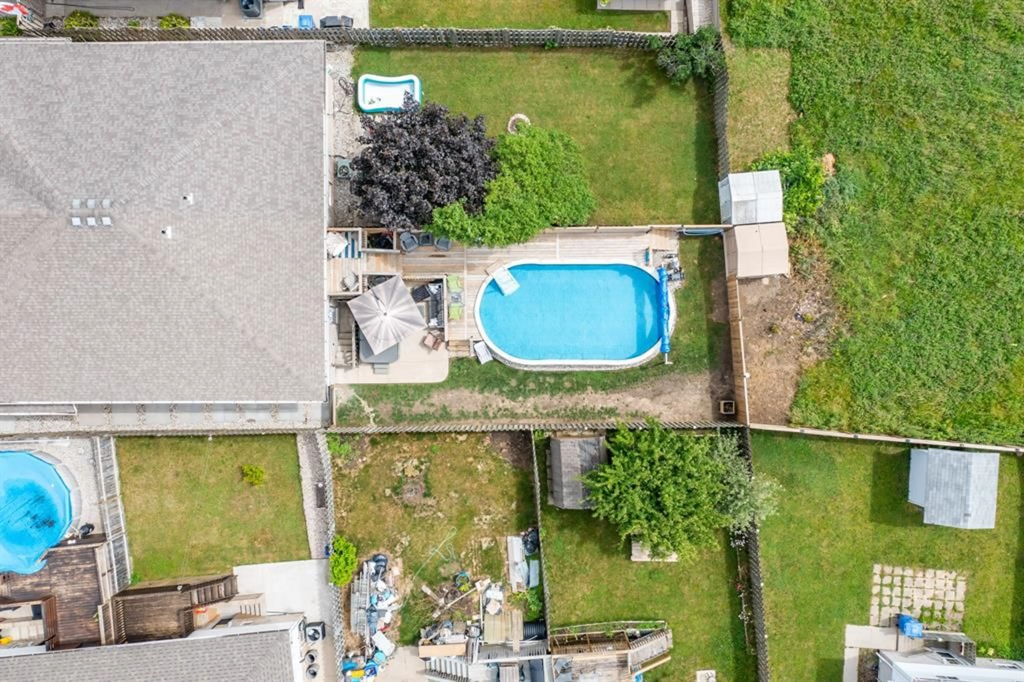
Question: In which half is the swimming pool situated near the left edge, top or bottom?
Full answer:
It is in the bottom half that the swimming pool situated near the left edge appears.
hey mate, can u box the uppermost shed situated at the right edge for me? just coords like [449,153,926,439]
[904,447,1000,529]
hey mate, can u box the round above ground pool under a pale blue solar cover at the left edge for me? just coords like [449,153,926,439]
[0,440,85,575]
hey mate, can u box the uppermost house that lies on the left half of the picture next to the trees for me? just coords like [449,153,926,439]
[0,34,333,416]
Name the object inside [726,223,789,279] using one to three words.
shed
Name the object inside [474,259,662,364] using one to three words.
swimming pool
